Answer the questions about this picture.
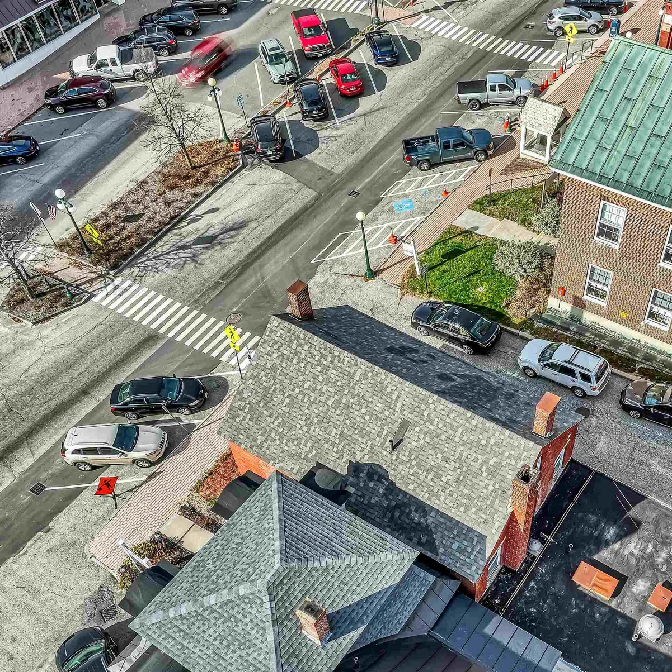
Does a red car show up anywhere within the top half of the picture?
Yes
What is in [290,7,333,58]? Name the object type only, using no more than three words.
truck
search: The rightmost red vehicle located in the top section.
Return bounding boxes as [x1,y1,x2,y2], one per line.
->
[327,59,366,97]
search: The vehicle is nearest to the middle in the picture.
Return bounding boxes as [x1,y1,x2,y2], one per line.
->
[410,302,502,355]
